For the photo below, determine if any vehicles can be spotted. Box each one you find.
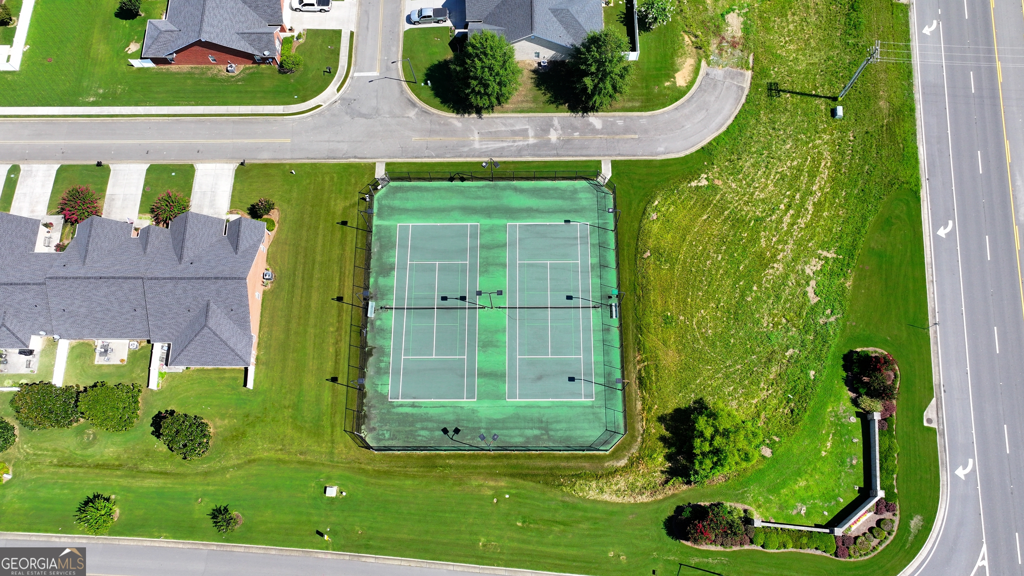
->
[409,7,447,26]
[289,0,331,13]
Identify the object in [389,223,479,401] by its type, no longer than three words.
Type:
tennis court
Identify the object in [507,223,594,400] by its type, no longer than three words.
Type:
tennis court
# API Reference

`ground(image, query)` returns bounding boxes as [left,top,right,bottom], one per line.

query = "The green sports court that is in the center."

[361,180,625,452]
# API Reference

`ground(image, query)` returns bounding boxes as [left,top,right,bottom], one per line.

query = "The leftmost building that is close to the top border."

[141,0,288,66]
